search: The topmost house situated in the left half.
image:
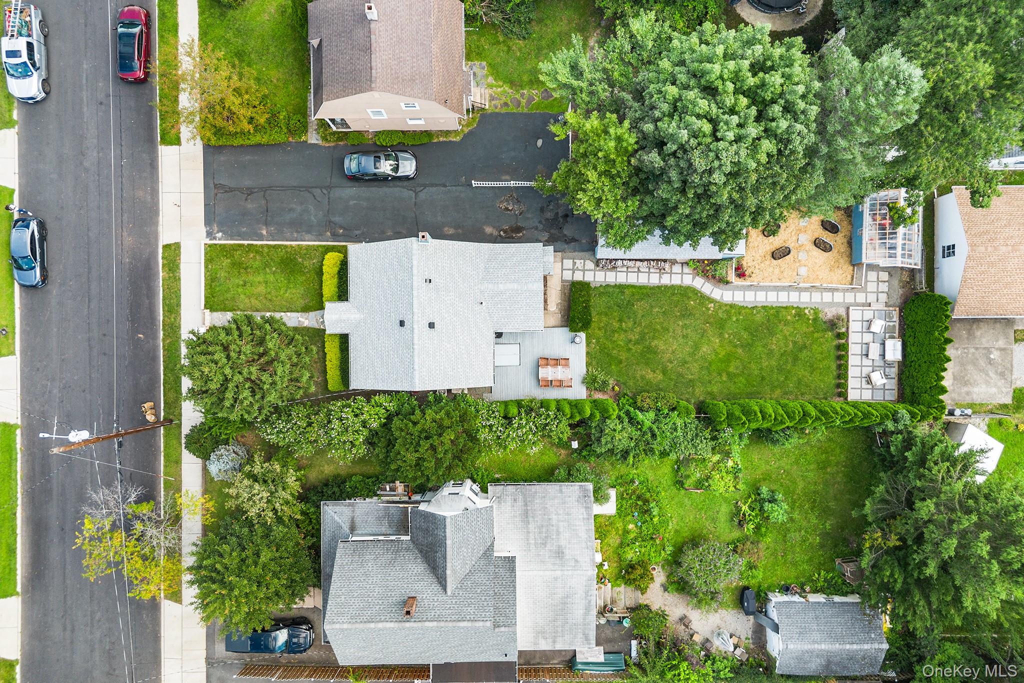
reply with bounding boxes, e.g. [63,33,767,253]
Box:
[306,0,489,126]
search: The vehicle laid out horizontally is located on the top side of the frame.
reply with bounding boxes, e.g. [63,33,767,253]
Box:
[344,147,417,182]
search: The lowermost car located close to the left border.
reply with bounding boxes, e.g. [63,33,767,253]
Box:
[1,218,44,288]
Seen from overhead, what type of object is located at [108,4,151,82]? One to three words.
car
